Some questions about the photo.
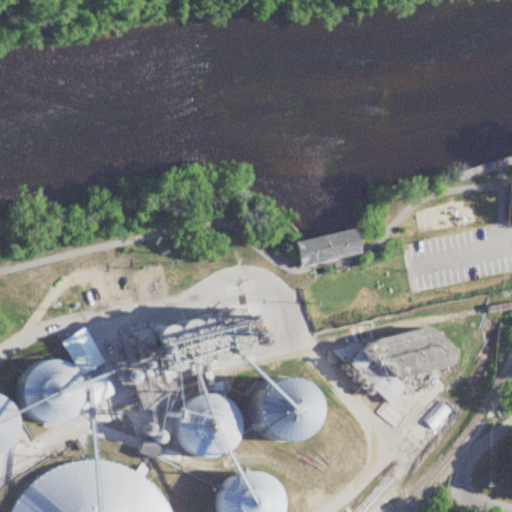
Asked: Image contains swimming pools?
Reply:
No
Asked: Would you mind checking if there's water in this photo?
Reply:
Yes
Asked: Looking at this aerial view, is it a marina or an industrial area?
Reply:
industrial area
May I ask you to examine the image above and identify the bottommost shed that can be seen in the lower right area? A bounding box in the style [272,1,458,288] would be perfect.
[422,403,452,430]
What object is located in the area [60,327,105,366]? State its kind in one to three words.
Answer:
shed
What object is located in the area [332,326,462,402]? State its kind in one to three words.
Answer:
building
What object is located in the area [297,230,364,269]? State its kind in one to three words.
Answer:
building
